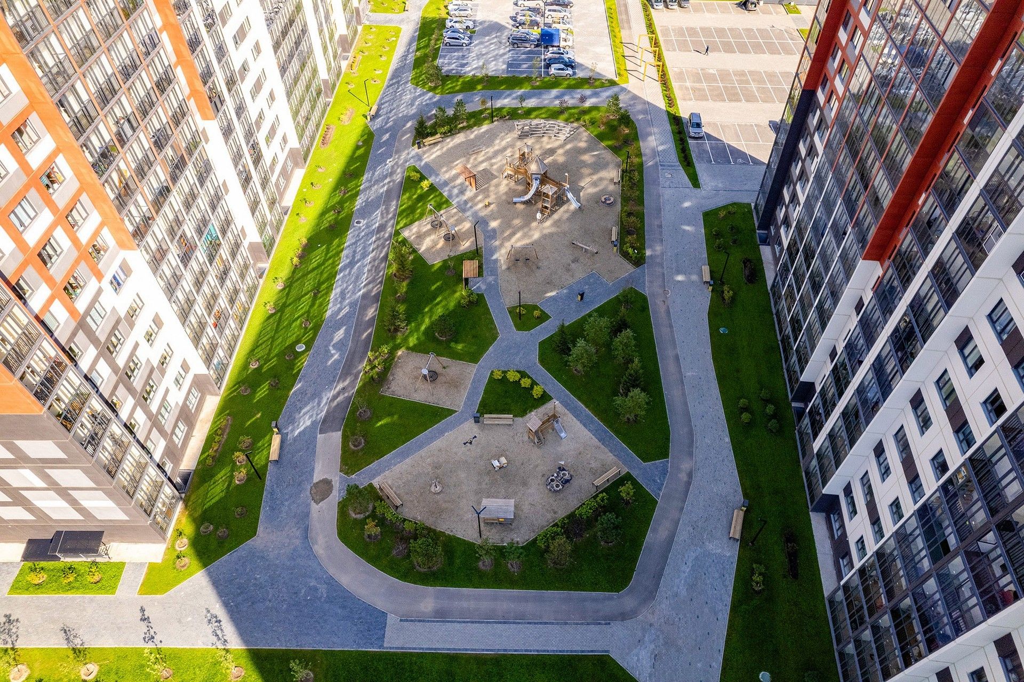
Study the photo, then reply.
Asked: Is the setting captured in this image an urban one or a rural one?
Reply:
urban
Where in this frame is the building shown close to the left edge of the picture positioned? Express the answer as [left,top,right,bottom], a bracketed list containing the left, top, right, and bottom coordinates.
[0,0,371,544]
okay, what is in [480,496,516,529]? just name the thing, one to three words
shed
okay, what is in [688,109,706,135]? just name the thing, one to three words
car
